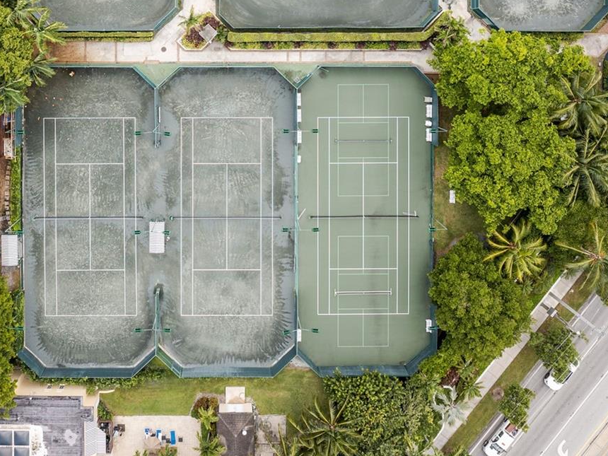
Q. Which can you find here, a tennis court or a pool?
tennis court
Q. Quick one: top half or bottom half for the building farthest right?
bottom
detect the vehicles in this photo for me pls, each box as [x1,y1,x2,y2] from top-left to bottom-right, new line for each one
[545,373,573,393]
[485,417,527,456]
